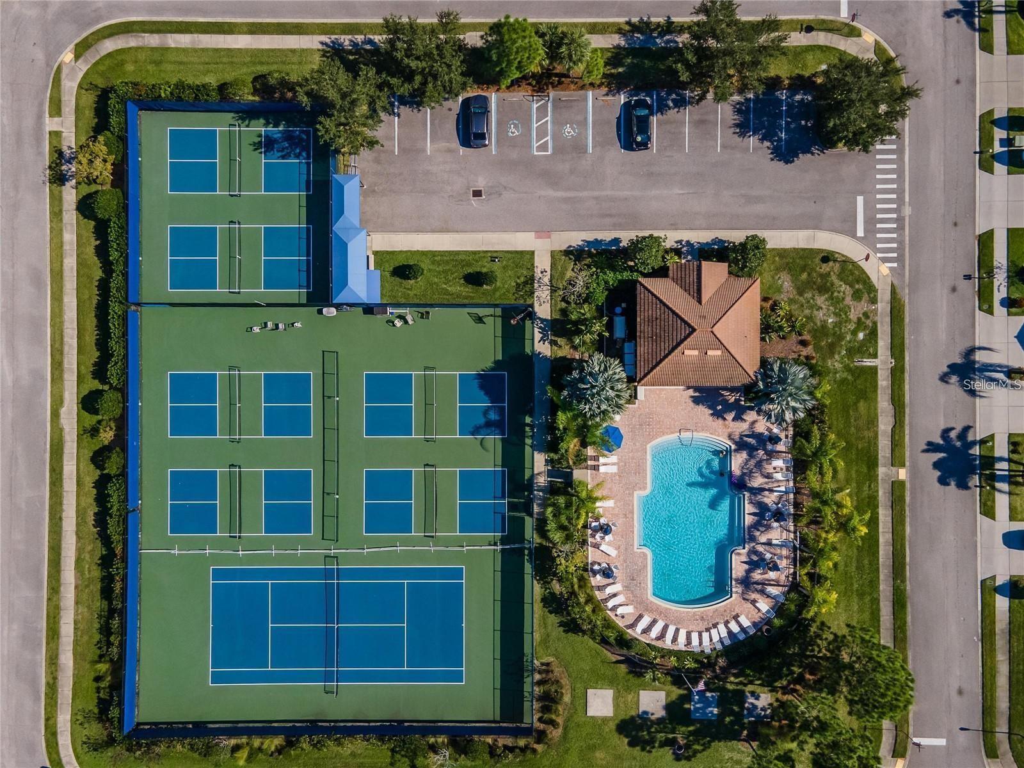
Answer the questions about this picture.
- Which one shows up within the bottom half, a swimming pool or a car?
swimming pool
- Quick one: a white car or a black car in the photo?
black car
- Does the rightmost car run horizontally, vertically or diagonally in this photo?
vertically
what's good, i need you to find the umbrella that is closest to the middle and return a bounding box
[598,424,626,452]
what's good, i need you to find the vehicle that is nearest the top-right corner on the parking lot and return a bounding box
[629,98,655,153]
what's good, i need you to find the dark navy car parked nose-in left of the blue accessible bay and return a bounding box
[467,96,493,150]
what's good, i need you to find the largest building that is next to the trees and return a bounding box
[636,260,761,387]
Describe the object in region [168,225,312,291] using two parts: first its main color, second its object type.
blue sports court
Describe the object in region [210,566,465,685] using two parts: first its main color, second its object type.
blue tennis court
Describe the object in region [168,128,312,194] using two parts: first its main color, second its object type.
blue sports court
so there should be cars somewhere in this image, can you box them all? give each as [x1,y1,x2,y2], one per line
[467,96,493,150]
[629,98,655,153]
